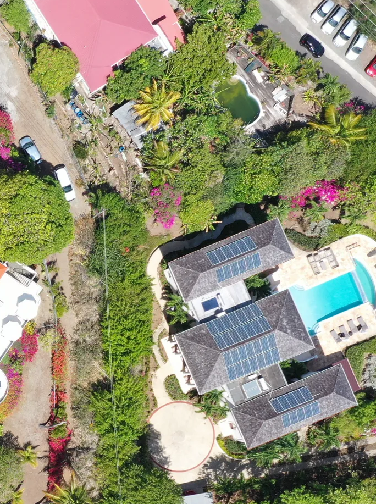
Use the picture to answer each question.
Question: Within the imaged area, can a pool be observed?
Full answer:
Yes, the image includes a pool.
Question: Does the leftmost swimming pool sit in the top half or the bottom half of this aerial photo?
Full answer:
The leftmost swimming pool is in the top half of the image.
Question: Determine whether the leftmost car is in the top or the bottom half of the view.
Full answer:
It is in the top half that the leftmost car appears.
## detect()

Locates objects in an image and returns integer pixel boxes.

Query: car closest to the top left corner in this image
[20,134,43,164]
